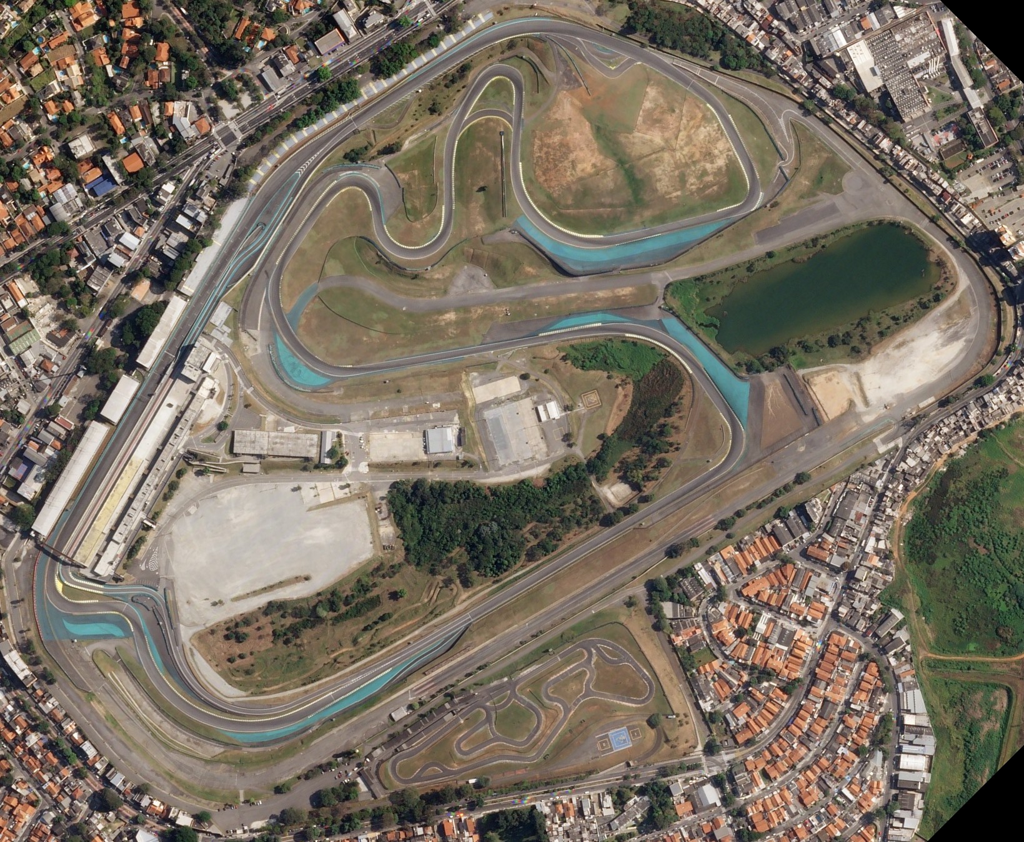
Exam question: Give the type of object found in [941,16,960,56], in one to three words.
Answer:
shed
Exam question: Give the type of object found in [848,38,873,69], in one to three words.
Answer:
house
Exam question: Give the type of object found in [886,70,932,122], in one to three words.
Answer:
building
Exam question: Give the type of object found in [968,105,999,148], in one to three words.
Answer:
house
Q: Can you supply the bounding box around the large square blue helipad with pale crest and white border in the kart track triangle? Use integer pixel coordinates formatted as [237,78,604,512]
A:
[595,727,632,756]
